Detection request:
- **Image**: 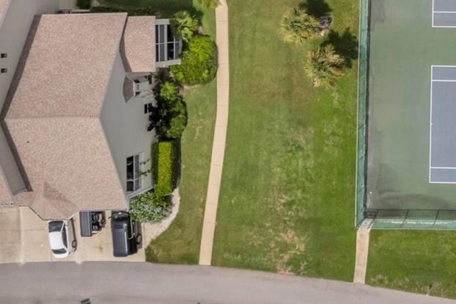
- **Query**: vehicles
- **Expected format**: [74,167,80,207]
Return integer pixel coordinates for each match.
[110,205,141,257]
[79,211,104,237]
[47,215,77,258]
